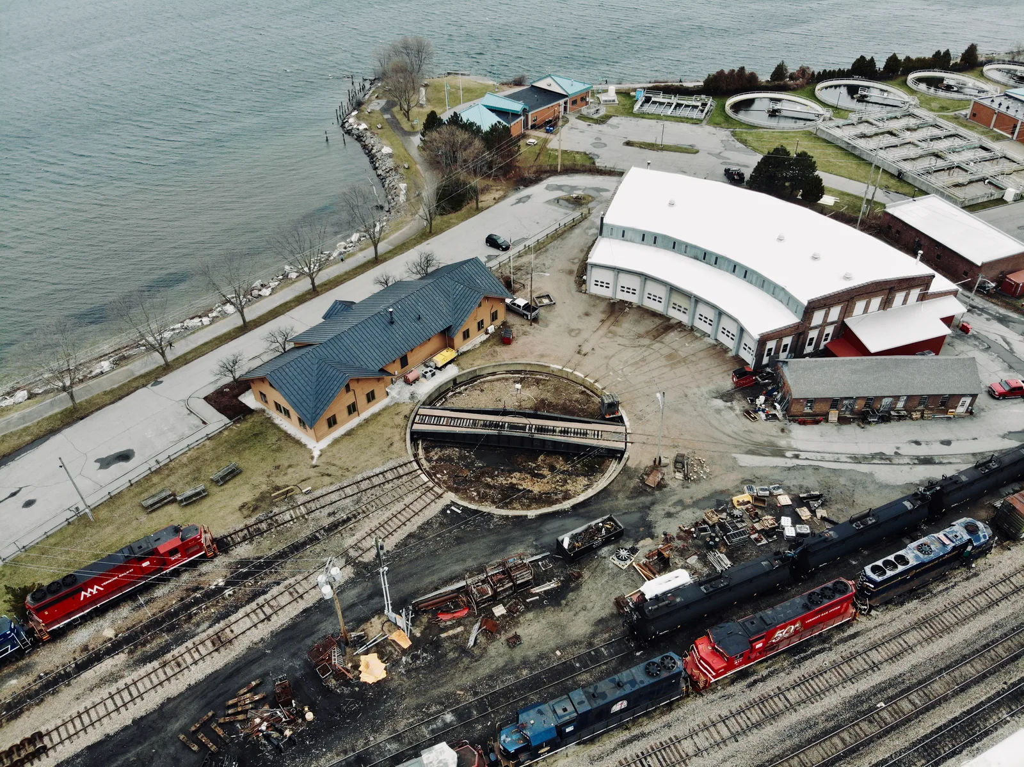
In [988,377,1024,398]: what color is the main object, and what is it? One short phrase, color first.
red truck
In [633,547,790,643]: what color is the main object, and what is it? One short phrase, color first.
black rail car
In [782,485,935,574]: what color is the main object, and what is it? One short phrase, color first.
black rail car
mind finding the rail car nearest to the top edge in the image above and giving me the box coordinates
[925,440,1024,513]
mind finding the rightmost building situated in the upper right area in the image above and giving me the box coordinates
[969,84,1024,140]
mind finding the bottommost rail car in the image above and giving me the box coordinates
[403,740,497,767]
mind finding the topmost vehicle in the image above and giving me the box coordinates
[723,167,748,183]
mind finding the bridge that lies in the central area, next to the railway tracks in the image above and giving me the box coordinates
[407,388,626,459]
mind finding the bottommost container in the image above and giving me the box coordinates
[552,513,624,563]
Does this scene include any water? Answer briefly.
Yes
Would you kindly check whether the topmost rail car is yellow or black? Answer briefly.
black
